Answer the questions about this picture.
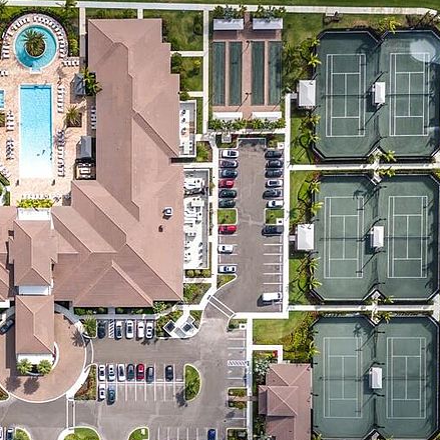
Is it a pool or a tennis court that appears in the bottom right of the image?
tennis court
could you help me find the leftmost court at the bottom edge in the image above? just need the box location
[311,317,375,440]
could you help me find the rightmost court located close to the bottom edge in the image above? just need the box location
[375,317,439,440]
